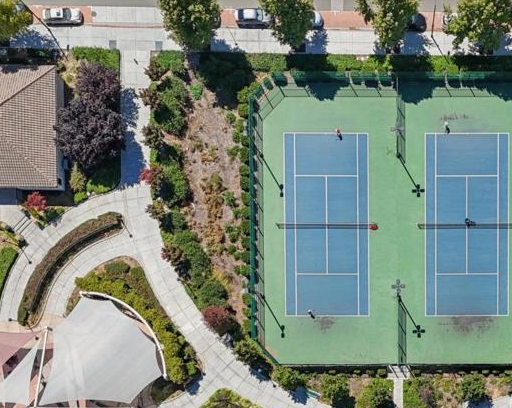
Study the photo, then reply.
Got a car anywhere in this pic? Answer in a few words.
Yes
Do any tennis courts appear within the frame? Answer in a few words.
Yes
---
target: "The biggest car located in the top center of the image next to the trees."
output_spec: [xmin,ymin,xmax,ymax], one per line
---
[235,9,270,29]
